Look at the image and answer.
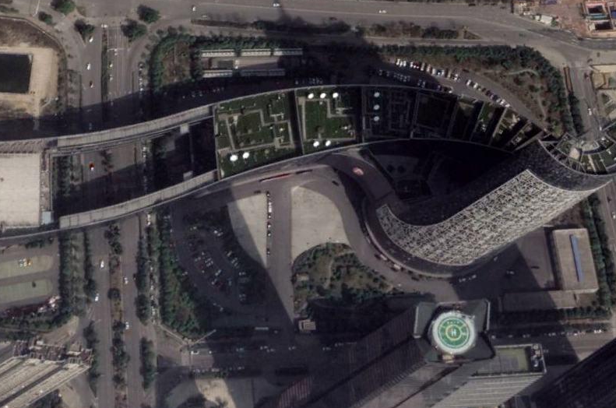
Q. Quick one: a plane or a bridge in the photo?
bridge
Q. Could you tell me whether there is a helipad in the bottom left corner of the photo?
No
